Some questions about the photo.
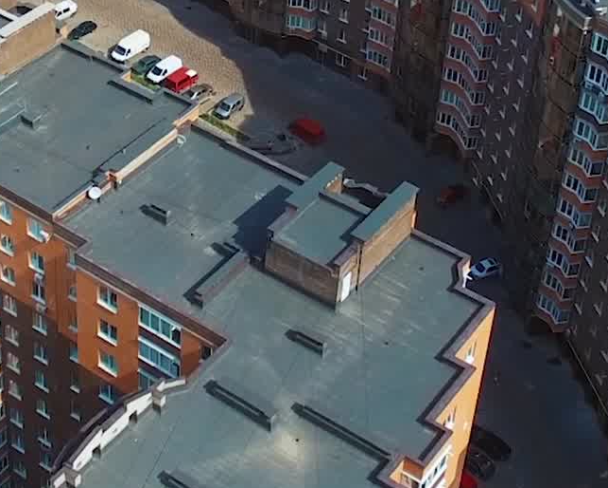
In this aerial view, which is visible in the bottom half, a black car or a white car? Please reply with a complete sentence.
The one visible in the bottom half is a black car.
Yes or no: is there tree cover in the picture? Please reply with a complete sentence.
No, tree cover can't be seen anywhere here.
